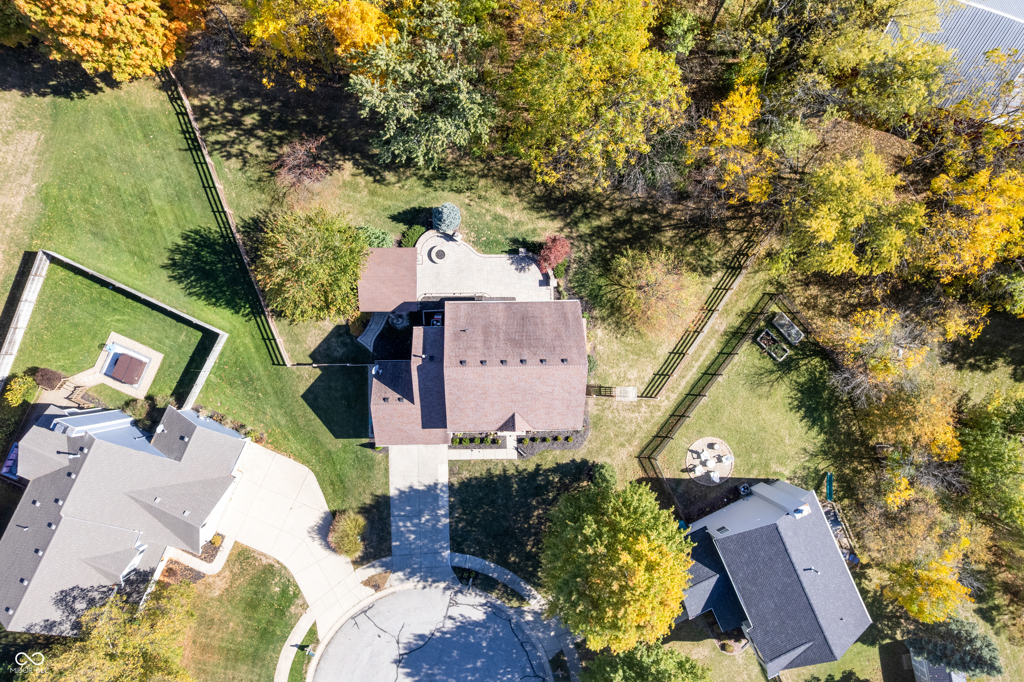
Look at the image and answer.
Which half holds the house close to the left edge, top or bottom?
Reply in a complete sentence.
Seen from above, the house close to the left edge lies in the bottom half of the view.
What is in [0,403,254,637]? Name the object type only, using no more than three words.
house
